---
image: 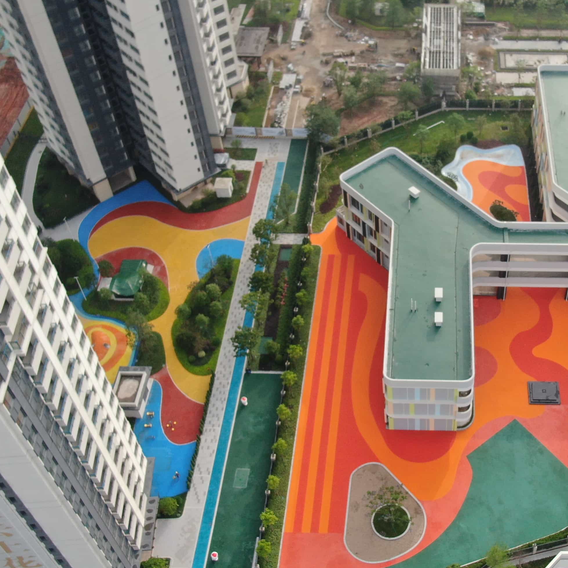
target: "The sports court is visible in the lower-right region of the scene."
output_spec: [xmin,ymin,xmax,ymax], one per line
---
[281,405,568,568]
